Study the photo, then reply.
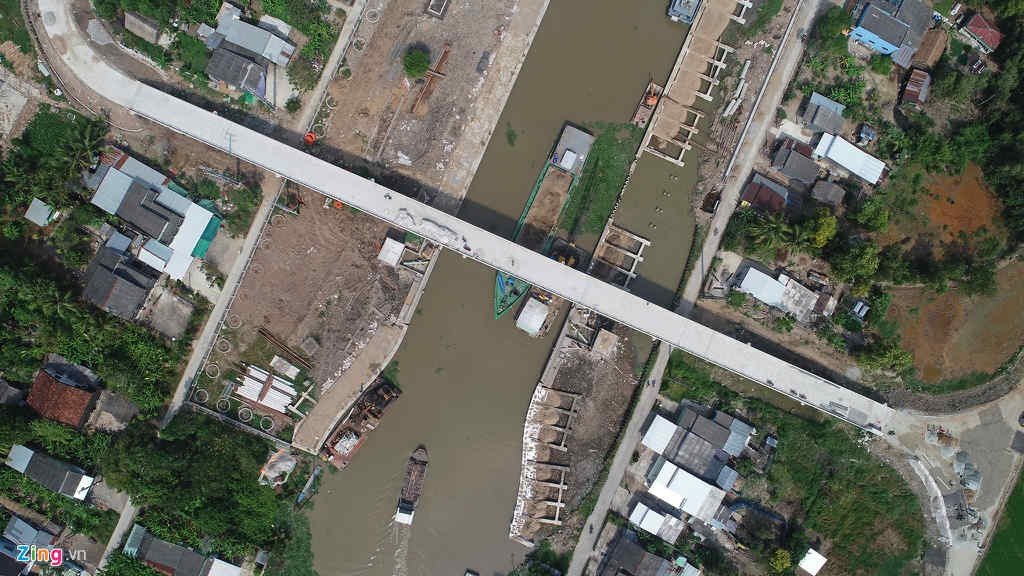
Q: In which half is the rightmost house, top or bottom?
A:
top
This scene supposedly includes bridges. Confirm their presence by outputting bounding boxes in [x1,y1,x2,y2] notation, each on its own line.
[123,80,894,435]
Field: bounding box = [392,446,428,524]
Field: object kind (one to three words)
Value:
boat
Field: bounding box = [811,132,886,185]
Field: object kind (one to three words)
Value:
house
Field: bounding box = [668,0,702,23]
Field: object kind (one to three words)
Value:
boat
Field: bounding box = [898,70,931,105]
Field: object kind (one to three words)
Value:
shed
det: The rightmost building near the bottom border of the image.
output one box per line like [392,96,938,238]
[801,546,827,575]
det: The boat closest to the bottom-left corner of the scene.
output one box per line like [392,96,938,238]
[298,466,320,503]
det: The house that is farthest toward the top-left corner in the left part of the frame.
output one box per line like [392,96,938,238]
[121,12,166,46]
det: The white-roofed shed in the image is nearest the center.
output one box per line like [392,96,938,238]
[377,238,406,266]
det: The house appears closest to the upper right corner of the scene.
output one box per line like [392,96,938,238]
[958,14,1003,56]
